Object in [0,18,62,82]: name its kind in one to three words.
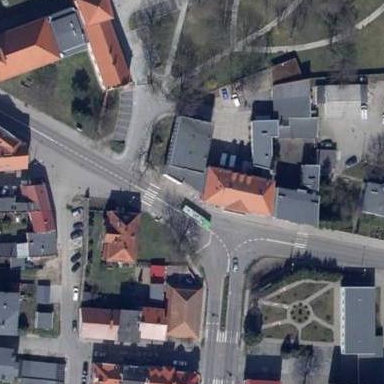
building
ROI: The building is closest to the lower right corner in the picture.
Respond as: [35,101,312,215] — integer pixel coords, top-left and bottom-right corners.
[337,288,384,358]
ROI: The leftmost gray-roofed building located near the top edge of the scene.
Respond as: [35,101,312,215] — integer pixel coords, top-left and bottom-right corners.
[46,8,88,59]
